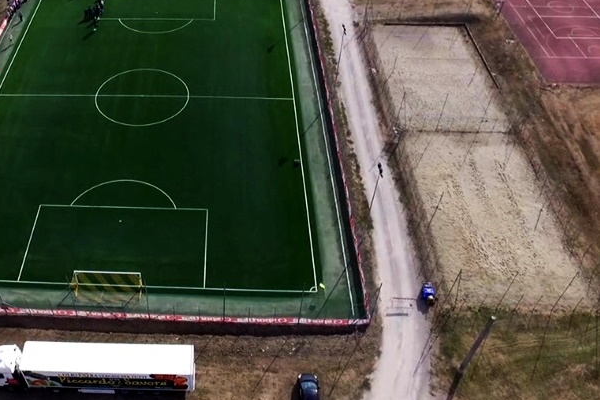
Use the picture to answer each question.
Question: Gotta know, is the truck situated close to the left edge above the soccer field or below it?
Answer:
below it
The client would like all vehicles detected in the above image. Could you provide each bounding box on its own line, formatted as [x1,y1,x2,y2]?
[0,343,194,396]
[418,283,440,309]
[295,374,323,400]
